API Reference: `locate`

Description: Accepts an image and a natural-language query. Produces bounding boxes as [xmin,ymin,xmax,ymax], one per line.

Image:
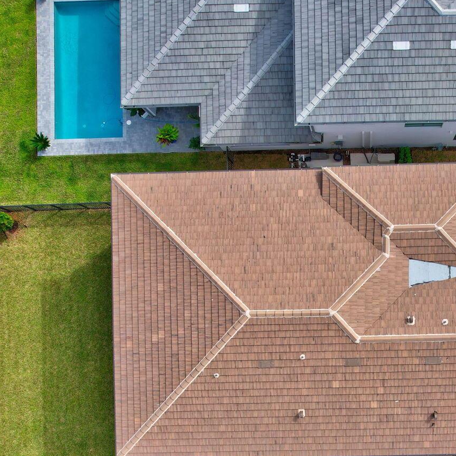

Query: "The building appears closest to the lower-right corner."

[110,161,456,456]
